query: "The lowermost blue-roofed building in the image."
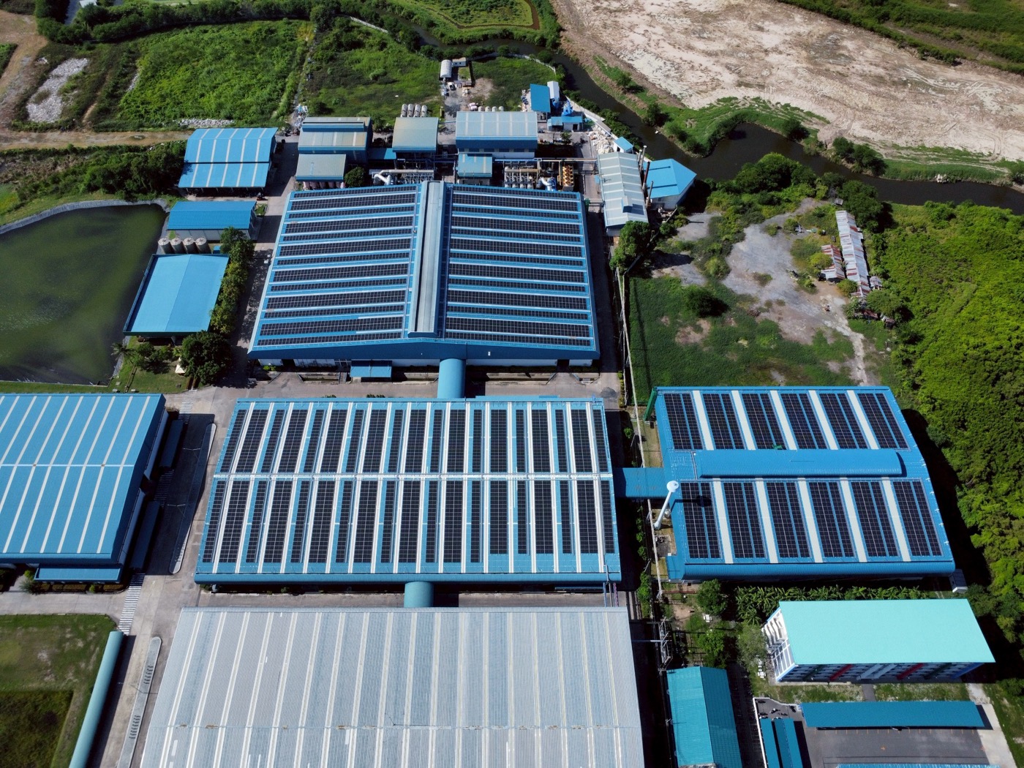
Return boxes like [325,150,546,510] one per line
[666,667,740,768]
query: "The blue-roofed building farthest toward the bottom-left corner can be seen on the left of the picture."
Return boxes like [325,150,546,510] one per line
[0,394,192,586]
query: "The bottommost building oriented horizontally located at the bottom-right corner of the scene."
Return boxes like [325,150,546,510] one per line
[764,599,994,679]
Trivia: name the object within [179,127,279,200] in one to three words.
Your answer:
building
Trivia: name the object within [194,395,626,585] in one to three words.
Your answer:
building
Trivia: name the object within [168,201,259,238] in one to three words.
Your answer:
shed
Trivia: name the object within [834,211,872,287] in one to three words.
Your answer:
shed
